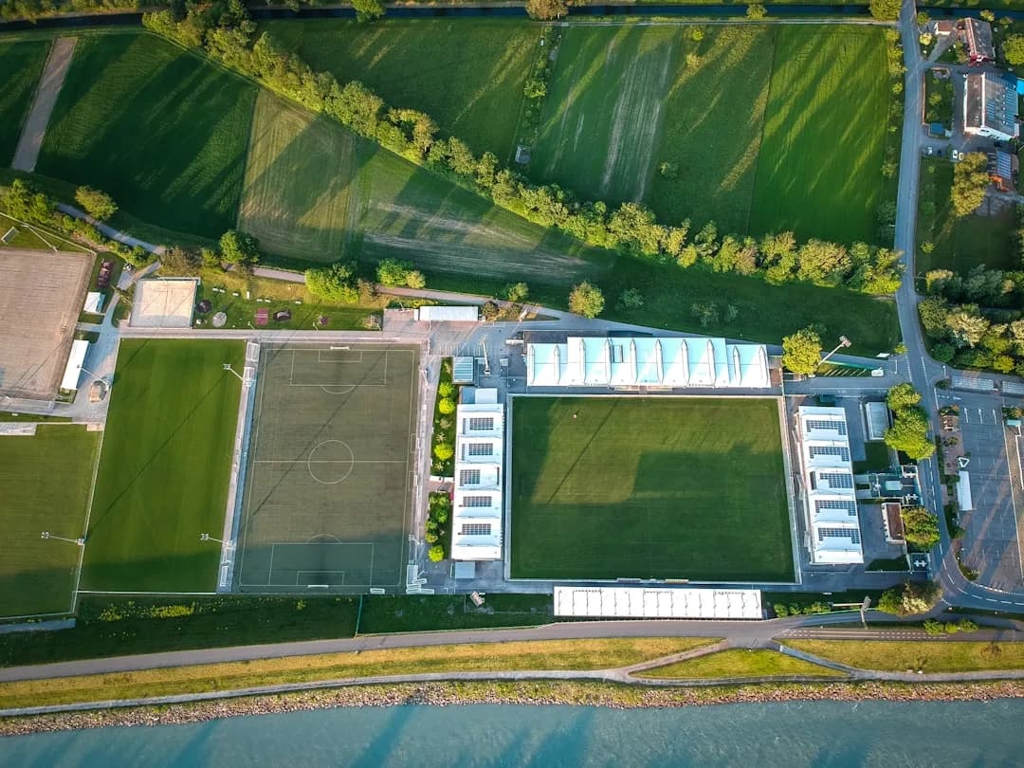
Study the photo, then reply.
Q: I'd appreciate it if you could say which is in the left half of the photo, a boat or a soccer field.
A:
soccer field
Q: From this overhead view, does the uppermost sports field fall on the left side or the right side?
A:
left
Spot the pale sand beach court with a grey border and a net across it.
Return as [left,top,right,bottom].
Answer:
[130,278,198,328]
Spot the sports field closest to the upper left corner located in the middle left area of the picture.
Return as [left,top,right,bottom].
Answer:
[0,248,96,401]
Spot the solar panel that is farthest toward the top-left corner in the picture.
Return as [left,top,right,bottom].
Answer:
[456,362,472,378]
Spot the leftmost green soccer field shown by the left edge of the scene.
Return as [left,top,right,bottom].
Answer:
[0,425,99,621]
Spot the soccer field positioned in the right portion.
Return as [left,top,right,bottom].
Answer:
[505,392,801,583]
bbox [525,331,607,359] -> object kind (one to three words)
building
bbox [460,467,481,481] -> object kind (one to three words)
solar panel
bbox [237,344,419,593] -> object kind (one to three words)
soccer field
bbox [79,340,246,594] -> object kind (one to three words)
soccer field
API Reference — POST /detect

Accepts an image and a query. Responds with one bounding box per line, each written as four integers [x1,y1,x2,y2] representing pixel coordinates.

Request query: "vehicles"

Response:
[871,368,885,375]
[927,145,934,154]
[959,151,965,159]
[993,141,1003,146]
[952,148,959,158]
